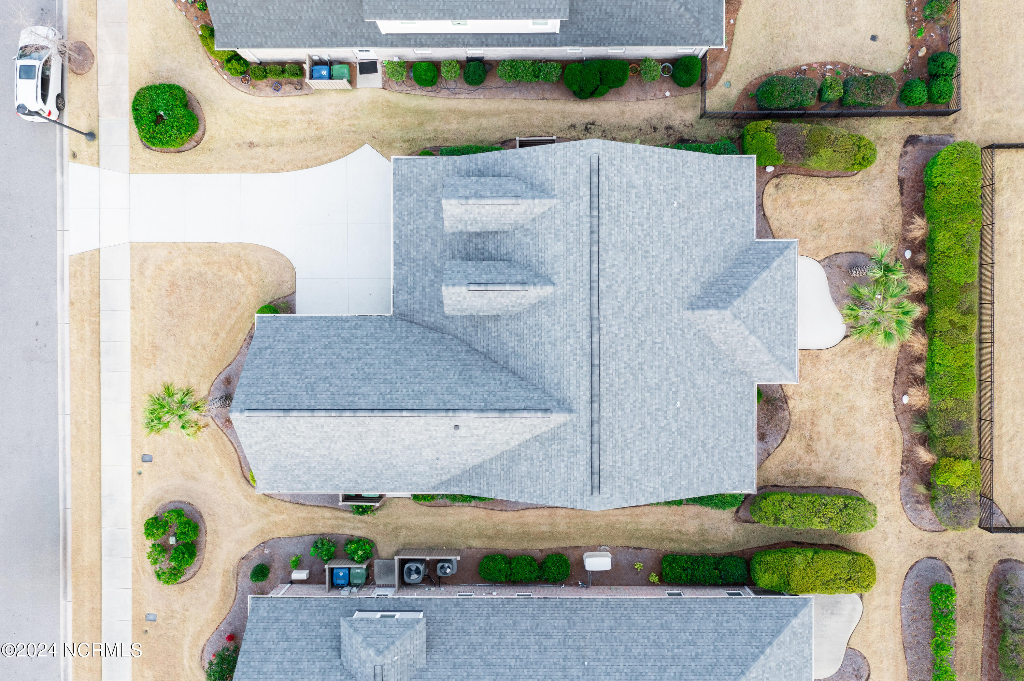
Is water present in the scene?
No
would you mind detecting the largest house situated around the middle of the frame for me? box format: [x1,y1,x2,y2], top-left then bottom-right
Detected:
[231,138,800,511]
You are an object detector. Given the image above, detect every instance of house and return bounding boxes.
[205,0,725,87]
[231,138,800,511]
[234,549,813,681]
